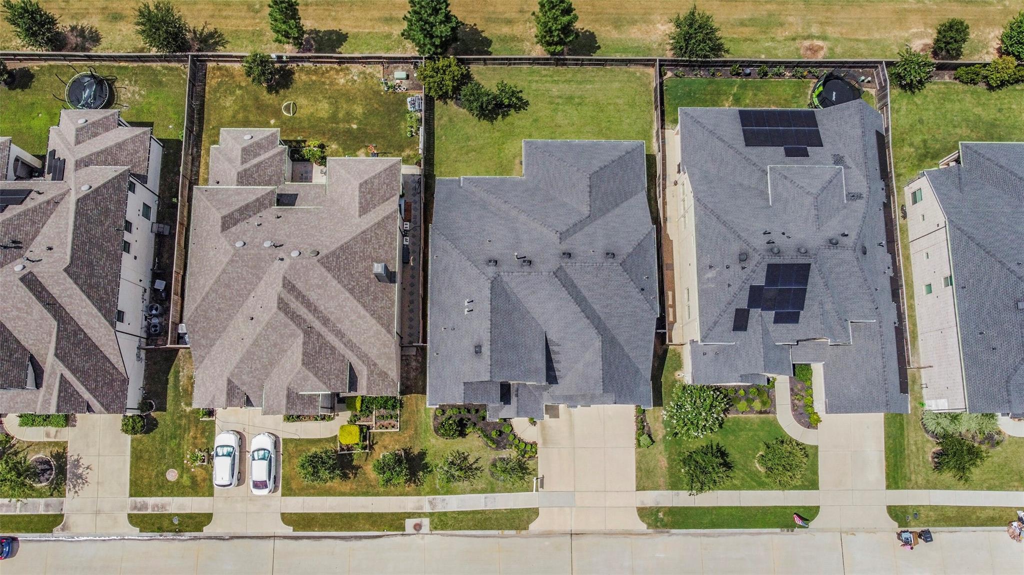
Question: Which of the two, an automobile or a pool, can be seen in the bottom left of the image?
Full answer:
The one visible in the bottom left of the image is an automobile.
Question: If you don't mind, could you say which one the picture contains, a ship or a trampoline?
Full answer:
Looking from above, you can make out a trampoline.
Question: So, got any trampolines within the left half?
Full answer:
Yes, within the left half there is a trampoline.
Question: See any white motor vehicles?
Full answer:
Yes, this view includes a white motor vehicle.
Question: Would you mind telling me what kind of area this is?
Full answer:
The area seen from above is a residential area.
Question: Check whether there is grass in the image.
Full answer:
Yes, some grass is visible.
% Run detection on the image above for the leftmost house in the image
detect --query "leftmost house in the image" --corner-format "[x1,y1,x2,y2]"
[0,108,162,415]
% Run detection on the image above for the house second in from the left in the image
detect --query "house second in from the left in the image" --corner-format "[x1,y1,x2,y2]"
[182,127,405,415]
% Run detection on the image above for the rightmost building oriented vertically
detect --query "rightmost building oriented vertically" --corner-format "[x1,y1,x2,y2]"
[908,141,1024,420]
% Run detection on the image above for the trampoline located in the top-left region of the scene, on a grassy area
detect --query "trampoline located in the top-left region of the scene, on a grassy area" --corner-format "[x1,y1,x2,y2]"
[49,60,125,109]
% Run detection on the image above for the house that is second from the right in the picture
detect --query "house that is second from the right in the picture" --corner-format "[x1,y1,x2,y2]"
[673,99,911,414]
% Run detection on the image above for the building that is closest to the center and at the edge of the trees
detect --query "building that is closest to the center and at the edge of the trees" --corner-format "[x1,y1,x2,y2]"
[426,139,658,421]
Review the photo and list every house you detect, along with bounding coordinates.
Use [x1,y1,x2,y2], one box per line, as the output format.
[0,108,162,415]
[908,141,1024,420]
[673,99,911,414]
[182,127,405,415]
[426,139,658,421]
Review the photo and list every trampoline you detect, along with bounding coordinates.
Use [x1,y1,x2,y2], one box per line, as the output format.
[49,60,125,109]
[810,64,869,108]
